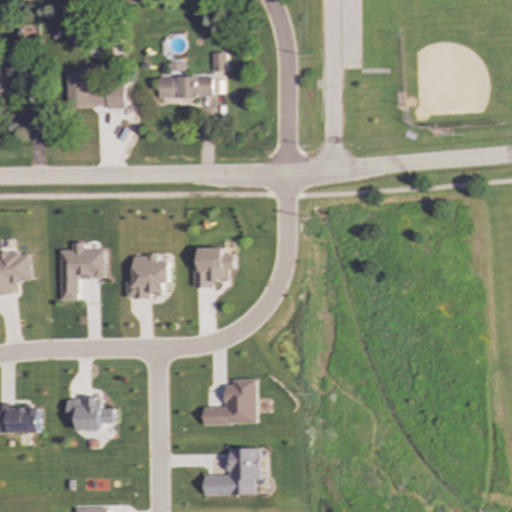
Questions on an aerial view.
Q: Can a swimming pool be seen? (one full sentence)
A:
Yes, the frame does contain a swimming pool.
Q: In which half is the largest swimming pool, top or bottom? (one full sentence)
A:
You can find the largest swimming pool in the top half.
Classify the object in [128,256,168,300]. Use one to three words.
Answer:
house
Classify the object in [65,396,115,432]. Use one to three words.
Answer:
house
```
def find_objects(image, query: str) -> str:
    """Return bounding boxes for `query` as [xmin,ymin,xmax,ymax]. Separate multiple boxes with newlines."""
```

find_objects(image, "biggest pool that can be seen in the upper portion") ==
[163,32,190,60]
